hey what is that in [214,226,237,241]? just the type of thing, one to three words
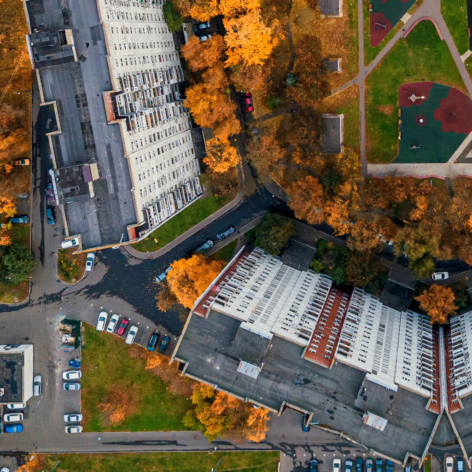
car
